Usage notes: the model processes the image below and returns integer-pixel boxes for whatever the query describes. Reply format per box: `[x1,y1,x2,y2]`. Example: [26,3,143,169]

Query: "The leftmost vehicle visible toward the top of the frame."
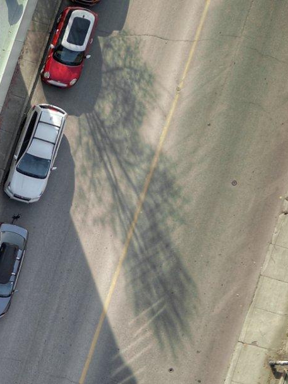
[0,104,65,203]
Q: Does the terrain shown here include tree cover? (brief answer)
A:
No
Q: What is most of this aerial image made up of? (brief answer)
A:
paved ground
